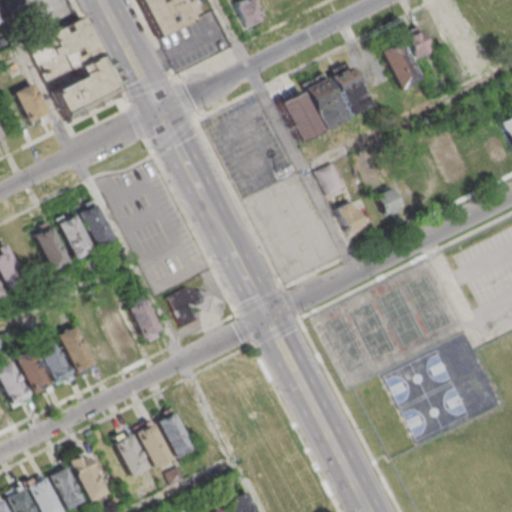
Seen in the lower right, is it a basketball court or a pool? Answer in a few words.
basketball court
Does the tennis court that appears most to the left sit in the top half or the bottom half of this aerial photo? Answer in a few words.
bottom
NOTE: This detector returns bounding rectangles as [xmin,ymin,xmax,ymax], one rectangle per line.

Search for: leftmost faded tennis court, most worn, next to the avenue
[323,316,367,375]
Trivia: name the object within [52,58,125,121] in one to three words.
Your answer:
building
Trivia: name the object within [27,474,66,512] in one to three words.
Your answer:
house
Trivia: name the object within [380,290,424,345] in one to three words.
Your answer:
tennis court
